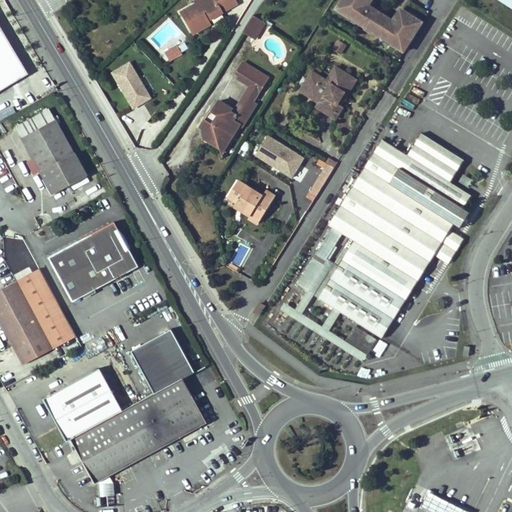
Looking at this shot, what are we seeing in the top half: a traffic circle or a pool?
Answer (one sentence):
It is a pool that can be seen in the top half.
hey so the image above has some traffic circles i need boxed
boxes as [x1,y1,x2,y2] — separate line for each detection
[254,394,366,506]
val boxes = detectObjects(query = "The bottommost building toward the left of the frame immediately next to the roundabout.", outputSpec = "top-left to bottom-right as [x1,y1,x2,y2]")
[72,380,207,482]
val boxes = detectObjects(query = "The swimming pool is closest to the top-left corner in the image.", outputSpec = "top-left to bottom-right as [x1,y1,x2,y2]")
[147,18,187,60]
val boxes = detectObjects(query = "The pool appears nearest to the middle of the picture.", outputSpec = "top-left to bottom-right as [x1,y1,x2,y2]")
[231,242,252,268]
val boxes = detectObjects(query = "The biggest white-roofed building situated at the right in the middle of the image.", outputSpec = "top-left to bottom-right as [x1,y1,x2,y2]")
[318,140,470,338]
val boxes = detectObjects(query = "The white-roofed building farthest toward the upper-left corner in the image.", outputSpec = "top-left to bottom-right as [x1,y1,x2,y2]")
[0,25,28,92]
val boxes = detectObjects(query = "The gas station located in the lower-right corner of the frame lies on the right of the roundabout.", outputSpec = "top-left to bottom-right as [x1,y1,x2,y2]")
[419,490,478,512]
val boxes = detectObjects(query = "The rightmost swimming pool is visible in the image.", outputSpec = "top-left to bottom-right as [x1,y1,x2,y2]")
[250,34,288,64]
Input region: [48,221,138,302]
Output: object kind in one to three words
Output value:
building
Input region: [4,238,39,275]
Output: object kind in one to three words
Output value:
shed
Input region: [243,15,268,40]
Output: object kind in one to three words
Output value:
house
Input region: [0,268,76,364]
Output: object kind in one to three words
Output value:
building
